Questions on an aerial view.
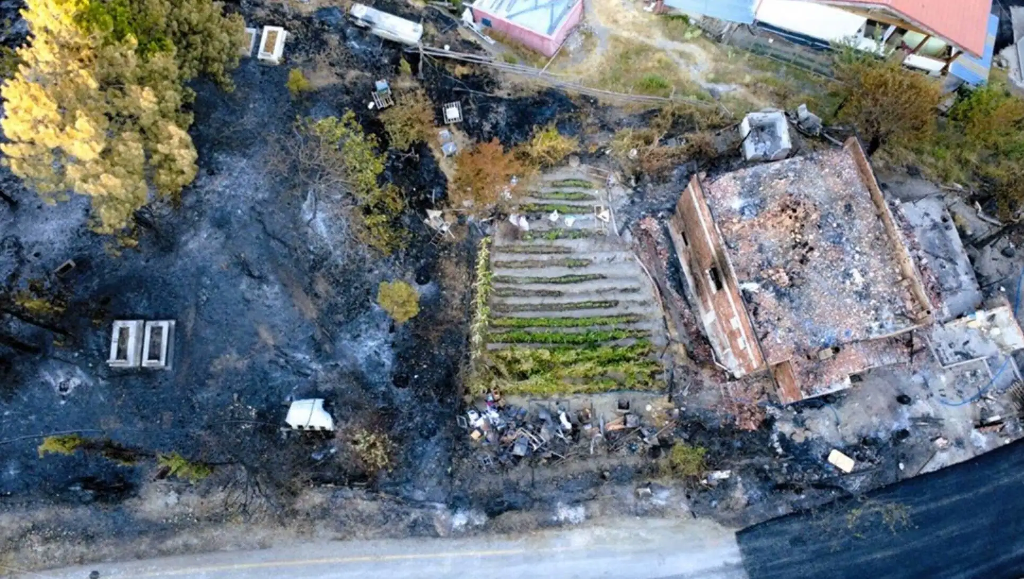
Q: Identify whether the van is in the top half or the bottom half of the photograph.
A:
top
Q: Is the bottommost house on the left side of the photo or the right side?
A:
right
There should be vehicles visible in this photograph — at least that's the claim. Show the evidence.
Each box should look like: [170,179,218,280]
[344,0,429,48]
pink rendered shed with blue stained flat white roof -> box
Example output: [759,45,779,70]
[466,0,589,61]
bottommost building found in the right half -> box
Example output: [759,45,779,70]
[669,140,934,406]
